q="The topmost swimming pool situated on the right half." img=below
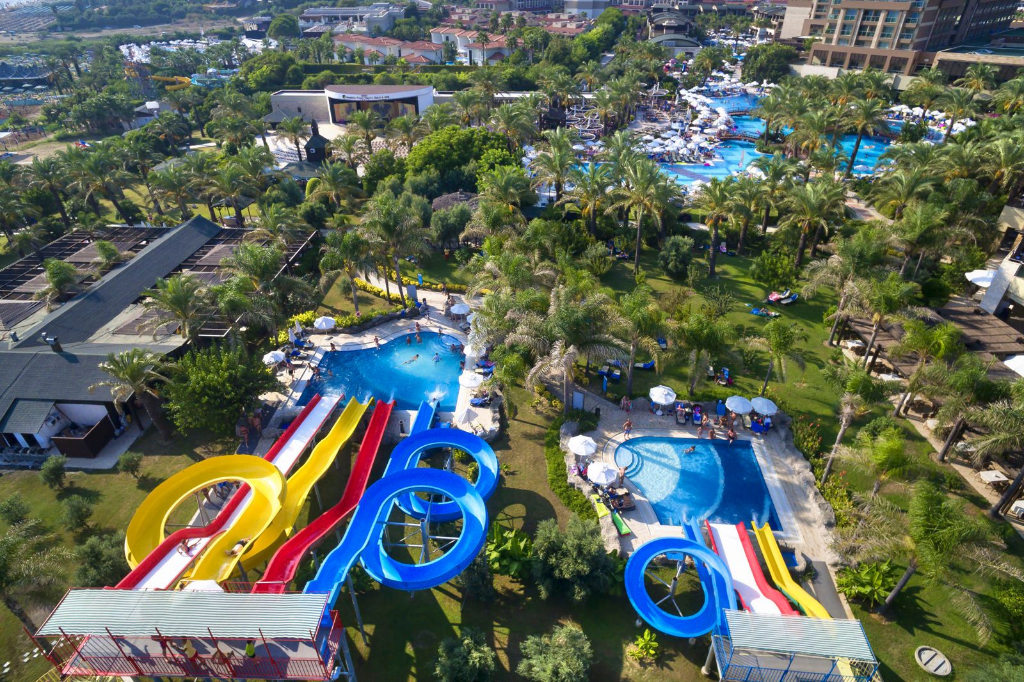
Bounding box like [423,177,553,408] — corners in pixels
[566,93,943,187]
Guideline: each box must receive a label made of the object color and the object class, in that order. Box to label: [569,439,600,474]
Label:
white umbrella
